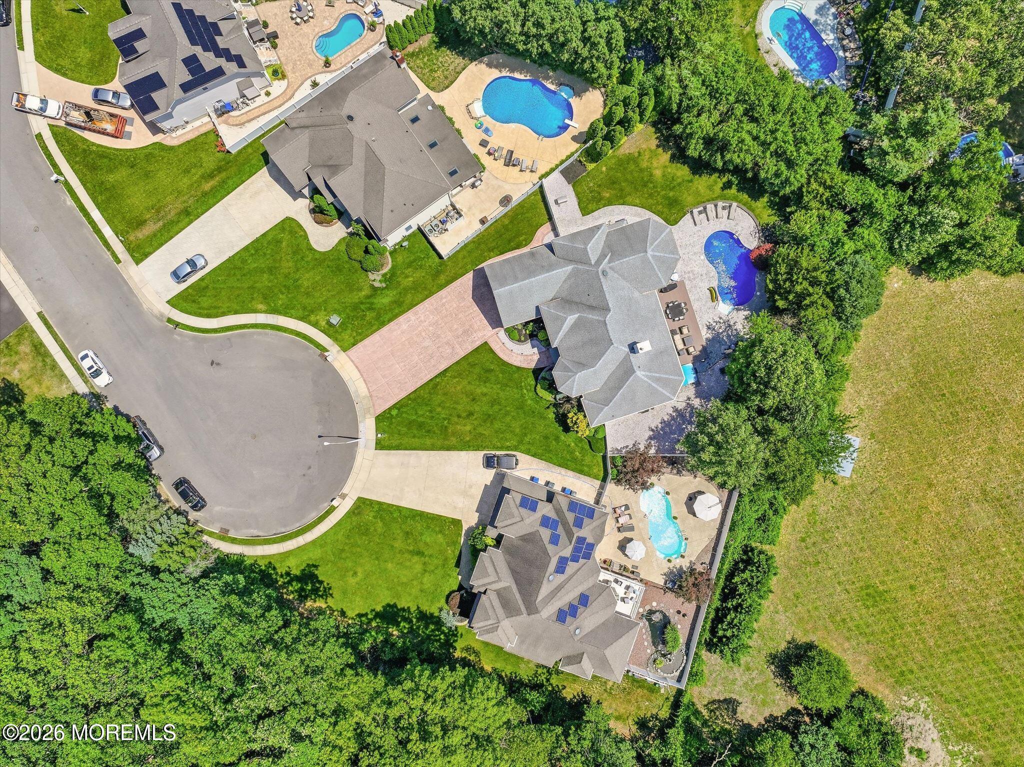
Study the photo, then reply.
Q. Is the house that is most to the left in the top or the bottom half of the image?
top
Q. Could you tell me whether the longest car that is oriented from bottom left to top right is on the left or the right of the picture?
left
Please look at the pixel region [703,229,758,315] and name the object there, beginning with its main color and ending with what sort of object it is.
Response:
blue swimming pool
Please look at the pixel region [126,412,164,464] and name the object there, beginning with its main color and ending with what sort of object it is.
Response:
gray truck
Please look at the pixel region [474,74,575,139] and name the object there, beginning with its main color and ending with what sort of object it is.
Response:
blue swimming pool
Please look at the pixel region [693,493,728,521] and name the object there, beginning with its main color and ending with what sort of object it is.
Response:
white umbrella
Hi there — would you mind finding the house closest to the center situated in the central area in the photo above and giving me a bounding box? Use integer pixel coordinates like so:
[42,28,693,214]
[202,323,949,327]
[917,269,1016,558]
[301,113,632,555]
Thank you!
[484,217,685,428]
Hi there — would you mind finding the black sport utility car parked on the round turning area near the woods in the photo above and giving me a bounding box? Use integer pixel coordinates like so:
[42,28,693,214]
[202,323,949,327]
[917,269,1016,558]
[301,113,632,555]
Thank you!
[167,475,205,515]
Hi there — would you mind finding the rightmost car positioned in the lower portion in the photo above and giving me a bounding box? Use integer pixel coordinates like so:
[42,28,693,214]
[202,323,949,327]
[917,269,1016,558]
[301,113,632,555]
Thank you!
[482,453,520,471]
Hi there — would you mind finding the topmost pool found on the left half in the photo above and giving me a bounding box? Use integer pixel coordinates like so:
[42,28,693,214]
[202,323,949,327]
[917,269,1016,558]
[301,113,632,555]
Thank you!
[312,10,368,59]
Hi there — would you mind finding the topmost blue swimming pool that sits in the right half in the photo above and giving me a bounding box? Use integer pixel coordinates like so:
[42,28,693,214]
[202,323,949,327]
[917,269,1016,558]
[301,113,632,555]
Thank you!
[768,0,839,82]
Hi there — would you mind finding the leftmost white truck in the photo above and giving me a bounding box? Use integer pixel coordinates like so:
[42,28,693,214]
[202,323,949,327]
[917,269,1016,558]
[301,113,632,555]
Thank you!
[4,87,60,117]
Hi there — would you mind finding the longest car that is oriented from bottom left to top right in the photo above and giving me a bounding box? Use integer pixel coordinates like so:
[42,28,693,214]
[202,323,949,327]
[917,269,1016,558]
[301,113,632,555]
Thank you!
[164,252,207,284]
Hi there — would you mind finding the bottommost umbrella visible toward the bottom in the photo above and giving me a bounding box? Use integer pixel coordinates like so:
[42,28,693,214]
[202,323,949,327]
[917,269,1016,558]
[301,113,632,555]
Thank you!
[625,540,646,561]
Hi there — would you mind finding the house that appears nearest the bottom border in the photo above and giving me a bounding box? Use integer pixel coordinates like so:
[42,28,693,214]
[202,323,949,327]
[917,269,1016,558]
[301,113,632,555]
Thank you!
[469,472,642,684]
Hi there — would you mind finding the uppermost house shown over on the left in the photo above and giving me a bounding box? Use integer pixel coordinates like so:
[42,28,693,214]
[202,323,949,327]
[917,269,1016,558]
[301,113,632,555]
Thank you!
[108,0,276,133]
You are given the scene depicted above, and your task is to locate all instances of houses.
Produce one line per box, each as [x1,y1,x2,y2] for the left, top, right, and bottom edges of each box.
[484,217,685,428]
[469,472,642,684]
[108,0,276,133]
[261,42,483,246]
